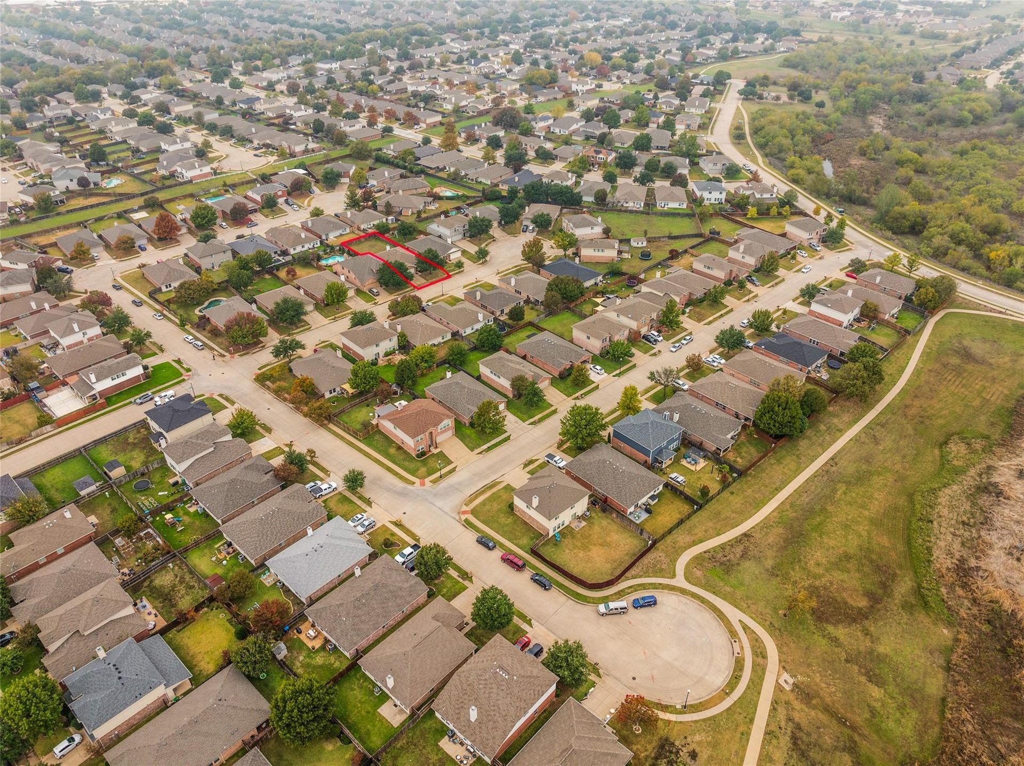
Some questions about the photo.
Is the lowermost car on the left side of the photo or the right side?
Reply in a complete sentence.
The lowermost car sits on the left side.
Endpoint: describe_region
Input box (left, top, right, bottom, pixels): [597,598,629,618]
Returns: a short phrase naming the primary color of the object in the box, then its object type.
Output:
white car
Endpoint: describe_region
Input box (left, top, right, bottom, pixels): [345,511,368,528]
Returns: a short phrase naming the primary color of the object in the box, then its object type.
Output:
white car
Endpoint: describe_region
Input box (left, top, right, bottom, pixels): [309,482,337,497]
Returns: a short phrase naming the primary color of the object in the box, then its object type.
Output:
white vehicle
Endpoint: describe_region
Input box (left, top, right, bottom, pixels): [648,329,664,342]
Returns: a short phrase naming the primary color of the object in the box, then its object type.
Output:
white vehicle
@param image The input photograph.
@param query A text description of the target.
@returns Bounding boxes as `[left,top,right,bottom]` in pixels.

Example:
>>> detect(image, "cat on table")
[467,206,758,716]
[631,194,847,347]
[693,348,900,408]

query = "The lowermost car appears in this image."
[47,732,87,763]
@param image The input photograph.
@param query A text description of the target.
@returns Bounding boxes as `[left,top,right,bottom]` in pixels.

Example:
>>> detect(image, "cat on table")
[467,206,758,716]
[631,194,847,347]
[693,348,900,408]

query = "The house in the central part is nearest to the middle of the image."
[471,350,547,401]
